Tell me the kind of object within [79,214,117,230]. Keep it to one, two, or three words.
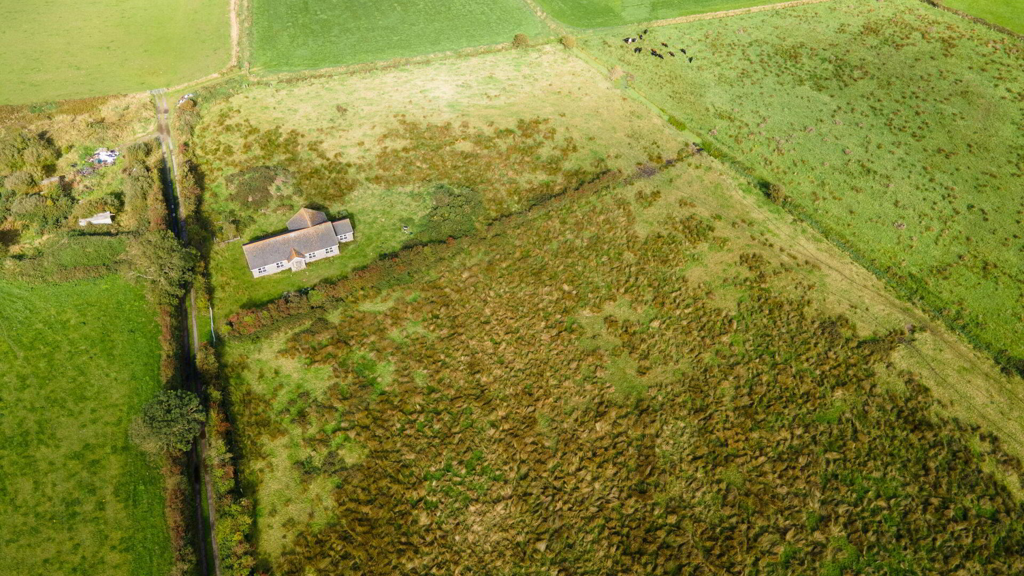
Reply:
shed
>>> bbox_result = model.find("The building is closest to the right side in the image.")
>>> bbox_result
[243,207,354,278]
